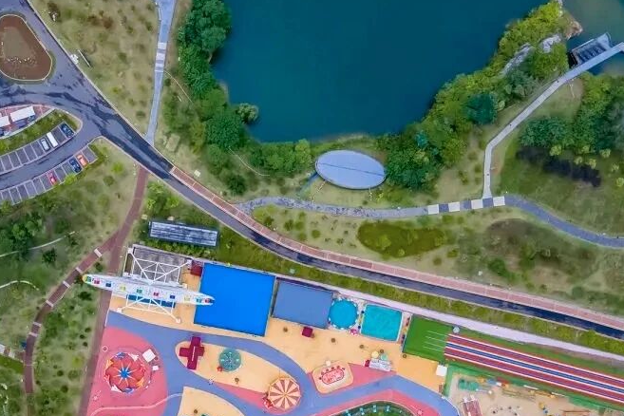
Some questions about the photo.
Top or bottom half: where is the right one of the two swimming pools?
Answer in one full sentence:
It is in the bottom half that the right one of the two swimming pools appears.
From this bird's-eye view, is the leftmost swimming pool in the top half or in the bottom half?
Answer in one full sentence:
Seen from above, the leftmost swimming pool lies in the bottom half of the view.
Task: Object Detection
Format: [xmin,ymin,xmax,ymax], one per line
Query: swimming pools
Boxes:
[361,305,403,341]
[330,299,360,329]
